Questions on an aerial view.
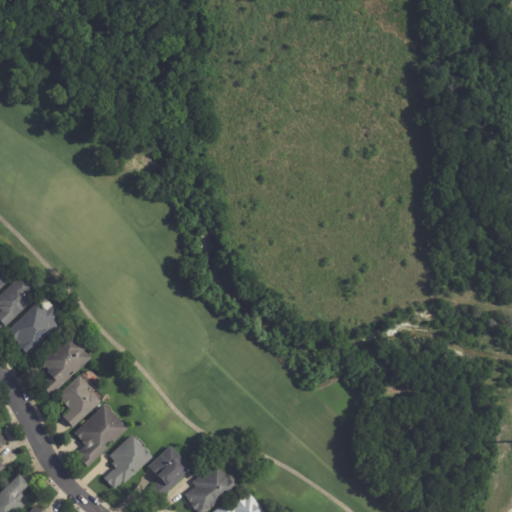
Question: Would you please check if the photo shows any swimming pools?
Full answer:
No, the picture doesn't show any swimming pool.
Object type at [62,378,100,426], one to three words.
house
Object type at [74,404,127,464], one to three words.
house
